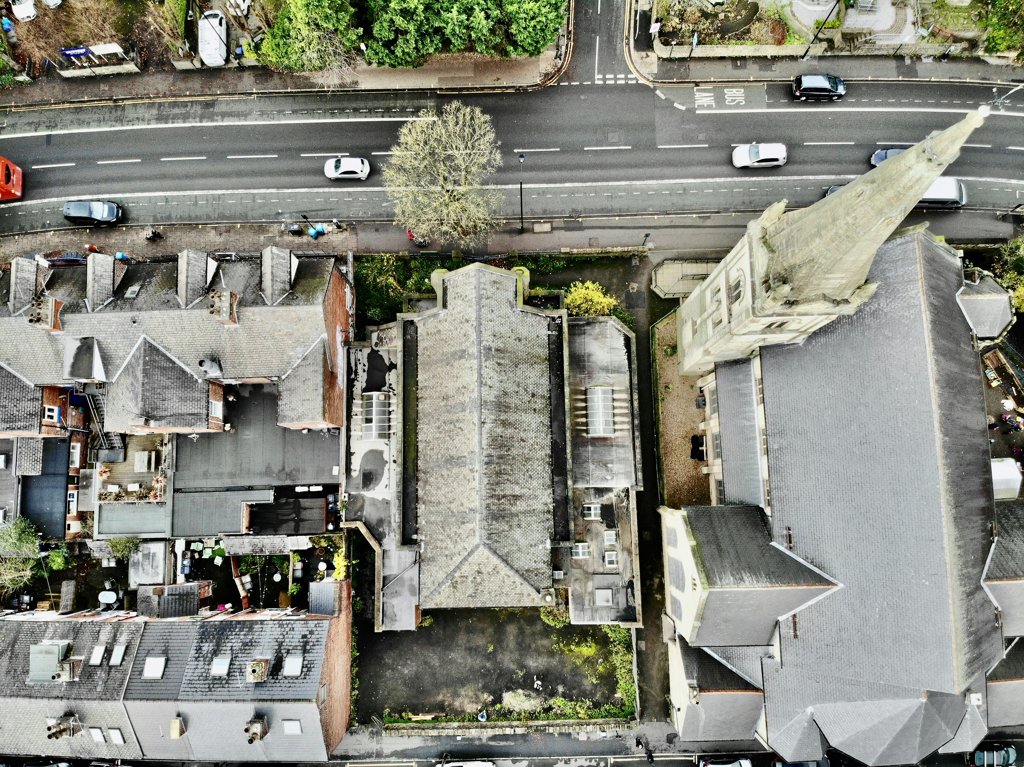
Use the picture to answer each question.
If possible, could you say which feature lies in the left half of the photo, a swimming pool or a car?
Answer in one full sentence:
Looking in the left half of the photo, you will find a car.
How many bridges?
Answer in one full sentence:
The picture shows no bridges.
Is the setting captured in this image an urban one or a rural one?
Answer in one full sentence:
It looks urban.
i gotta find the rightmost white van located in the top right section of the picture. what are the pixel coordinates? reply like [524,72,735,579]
[916,176,962,209]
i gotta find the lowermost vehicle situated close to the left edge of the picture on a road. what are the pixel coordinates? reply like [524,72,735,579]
[0,166,38,209]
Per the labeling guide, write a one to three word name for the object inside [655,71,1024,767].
church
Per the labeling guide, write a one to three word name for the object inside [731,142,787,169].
car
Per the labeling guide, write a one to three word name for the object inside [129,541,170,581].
shed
